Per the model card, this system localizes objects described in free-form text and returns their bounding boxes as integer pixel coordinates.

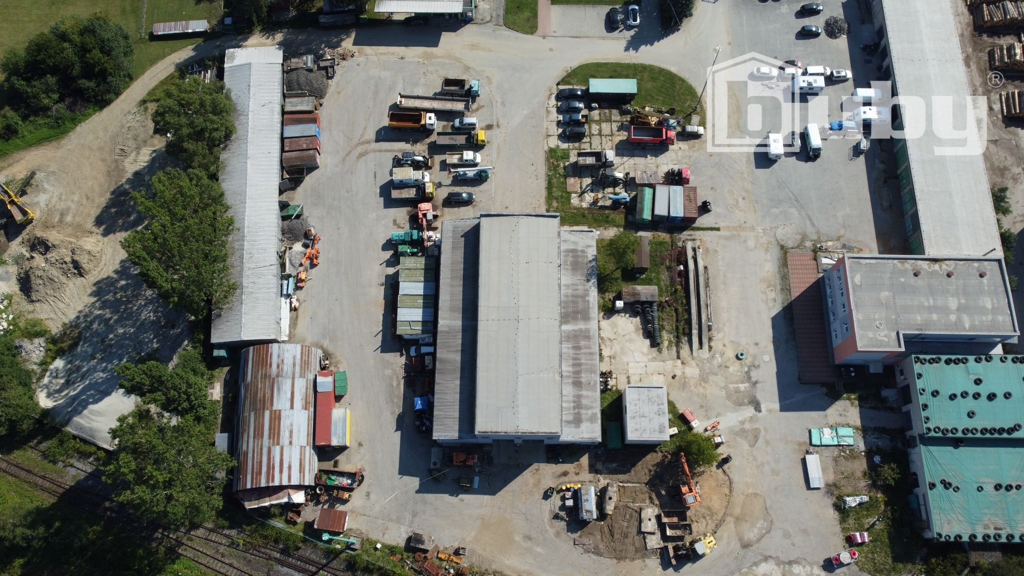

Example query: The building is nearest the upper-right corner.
[868,0,1004,256]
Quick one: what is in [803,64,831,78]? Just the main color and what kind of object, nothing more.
white vehicle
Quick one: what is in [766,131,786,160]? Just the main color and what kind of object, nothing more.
white camper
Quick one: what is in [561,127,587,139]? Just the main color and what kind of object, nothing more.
black vehicle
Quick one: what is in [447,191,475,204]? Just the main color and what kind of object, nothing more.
black vehicle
